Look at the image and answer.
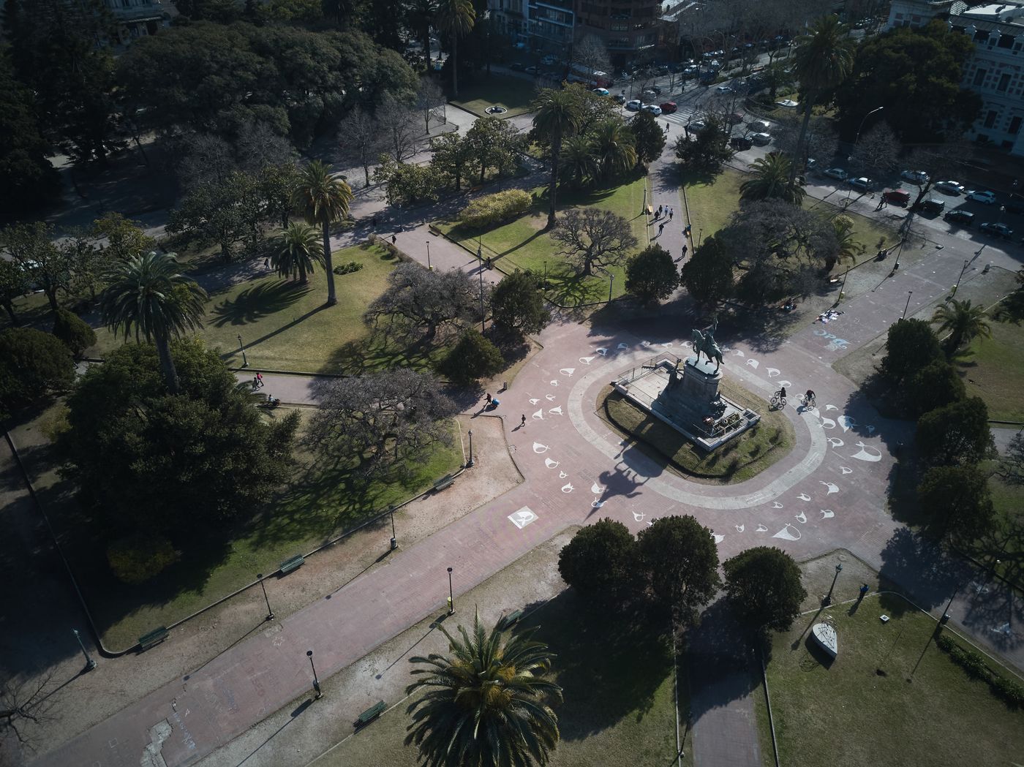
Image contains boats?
Yes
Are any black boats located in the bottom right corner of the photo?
No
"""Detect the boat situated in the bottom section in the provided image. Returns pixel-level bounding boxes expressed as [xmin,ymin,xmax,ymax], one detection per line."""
[812,623,838,656]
